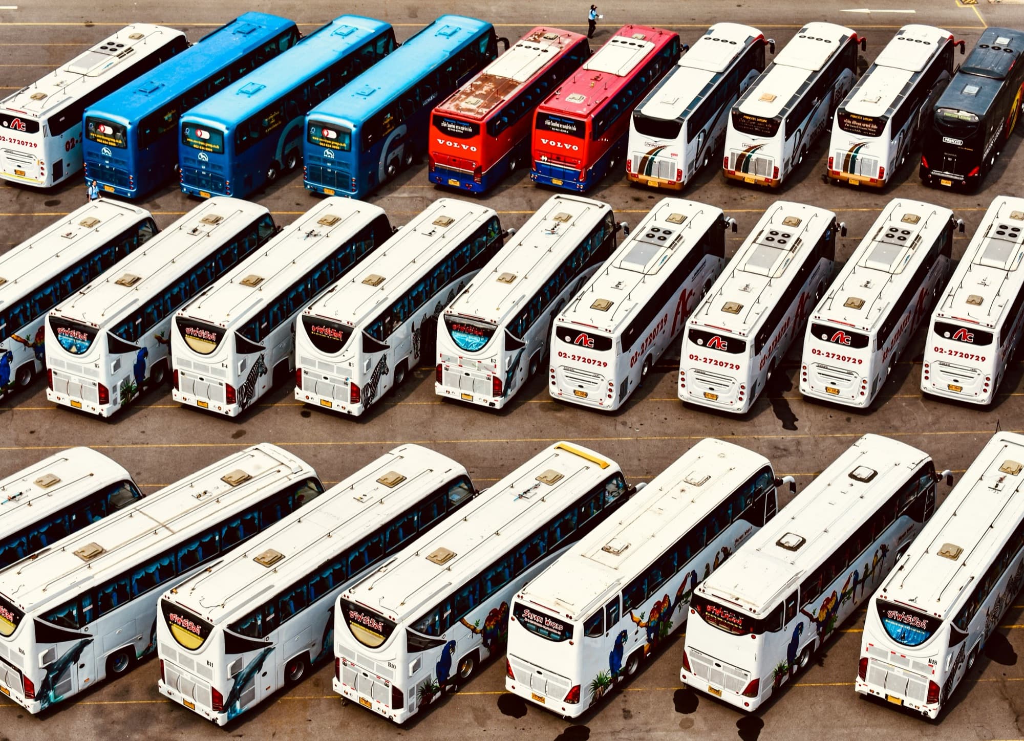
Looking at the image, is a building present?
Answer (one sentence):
No, there is no building in the image.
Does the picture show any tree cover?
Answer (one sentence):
No, no tree cover is visible.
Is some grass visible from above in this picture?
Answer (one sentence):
No, there's no grass in this view.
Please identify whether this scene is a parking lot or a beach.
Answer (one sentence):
The area seen from above is a parking lot.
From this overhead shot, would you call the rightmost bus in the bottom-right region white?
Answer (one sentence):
Yes, the rightmost bus in the bottom-right region is white.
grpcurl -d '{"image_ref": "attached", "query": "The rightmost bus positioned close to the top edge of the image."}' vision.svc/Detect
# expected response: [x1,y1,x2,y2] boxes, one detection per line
[919,20,1024,193]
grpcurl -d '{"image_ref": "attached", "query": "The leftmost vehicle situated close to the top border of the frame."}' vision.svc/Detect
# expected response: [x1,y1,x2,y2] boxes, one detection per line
[0,20,197,188]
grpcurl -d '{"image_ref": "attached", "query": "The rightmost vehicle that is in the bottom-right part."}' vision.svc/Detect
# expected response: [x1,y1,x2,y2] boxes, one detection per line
[854,411,1024,721]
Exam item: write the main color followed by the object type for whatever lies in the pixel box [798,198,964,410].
white bus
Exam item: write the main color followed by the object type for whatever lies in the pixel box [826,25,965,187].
white bus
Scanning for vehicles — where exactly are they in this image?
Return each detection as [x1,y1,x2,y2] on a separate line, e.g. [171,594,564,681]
[530,24,688,191]
[0,443,327,714]
[332,442,640,727]
[826,25,965,187]
[919,20,1024,193]
[722,23,868,186]
[179,15,409,197]
[304,15,509,198]
[503,437,794,719]
[0,447,153,570]
[0,200,160,400]
[171,196,398,418]
[83,12,312,199]
[680,433,952,709]
[854,411,1024,721]
[549,198,736,413]
[798,198,964,410]
[434,193,627,412]
[625,24,773,191]
[0,20,197,188]
[428,25,598,194]
[157,444,486,727]
[295,197,513,417]
[919,195,1024,406]
[45,195,286,418]
[678,201,847,415]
